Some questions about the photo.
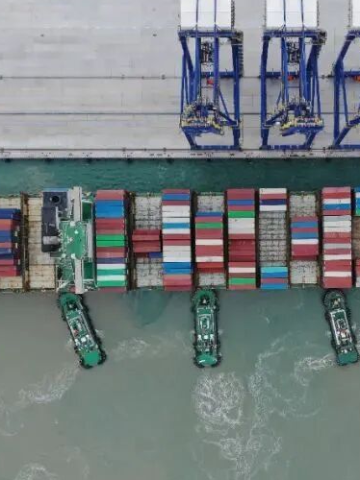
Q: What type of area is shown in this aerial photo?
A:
port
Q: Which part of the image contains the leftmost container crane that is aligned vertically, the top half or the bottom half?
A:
top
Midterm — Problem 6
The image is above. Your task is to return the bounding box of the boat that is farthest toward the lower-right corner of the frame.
[322,288,360,368]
